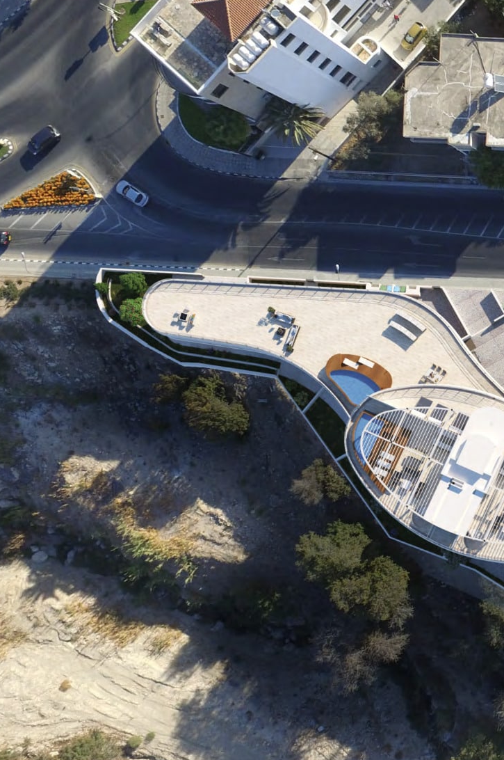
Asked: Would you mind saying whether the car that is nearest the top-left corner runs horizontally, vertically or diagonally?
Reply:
diagonally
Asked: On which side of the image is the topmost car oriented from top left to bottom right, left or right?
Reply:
left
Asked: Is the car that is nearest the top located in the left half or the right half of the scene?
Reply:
right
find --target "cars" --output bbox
[0,232,10,244]
[28,125,61,154]
[403,20,426,52]
[115,179,149,208]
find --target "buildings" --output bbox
[404,34,504,155]
[129,0,417,132]
[142,278,504,564]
